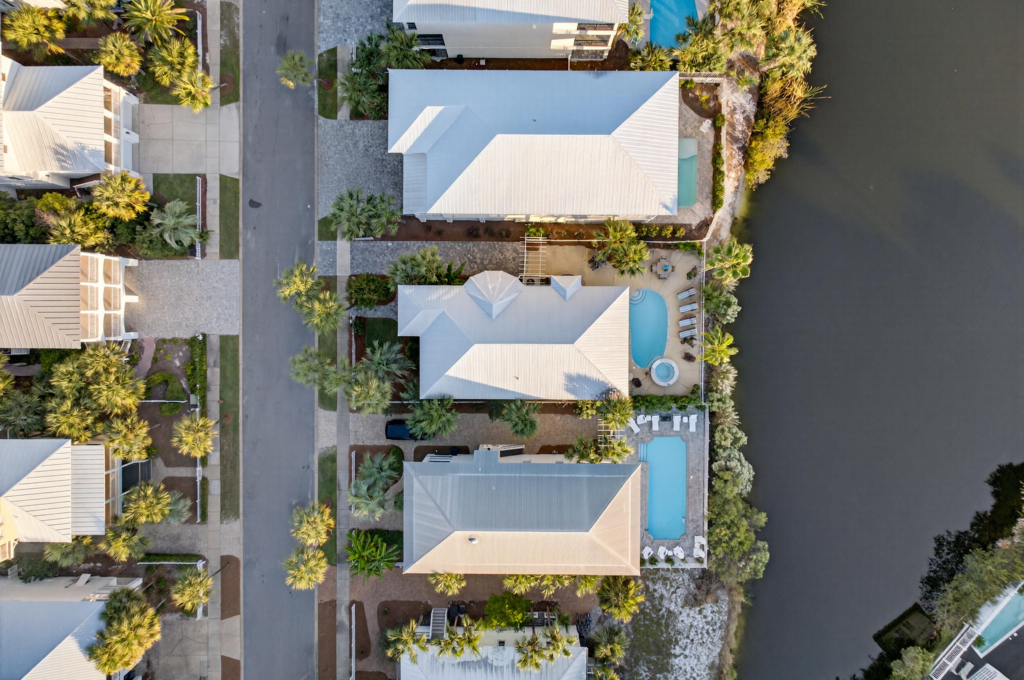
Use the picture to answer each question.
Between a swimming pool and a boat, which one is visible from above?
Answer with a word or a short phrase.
swimming pool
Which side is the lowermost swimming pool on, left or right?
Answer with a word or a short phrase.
right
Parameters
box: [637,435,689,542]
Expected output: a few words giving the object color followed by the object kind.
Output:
blue swimming pool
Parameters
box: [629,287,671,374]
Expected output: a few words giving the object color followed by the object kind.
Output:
blue swimming pool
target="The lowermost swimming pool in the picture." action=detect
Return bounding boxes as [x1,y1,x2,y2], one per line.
[980,585,1024,654]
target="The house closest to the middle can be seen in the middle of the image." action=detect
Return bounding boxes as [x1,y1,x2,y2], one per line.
[397,270,630,400]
